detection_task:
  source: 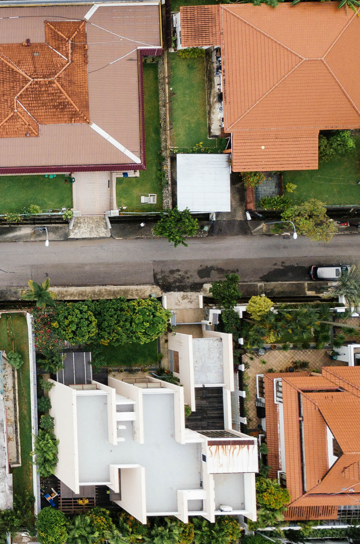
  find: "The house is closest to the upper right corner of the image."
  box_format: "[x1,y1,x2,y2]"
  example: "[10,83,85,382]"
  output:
[169,1,360,172]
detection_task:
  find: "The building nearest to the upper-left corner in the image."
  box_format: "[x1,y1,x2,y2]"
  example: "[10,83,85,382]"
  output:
[0,1,163,175]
